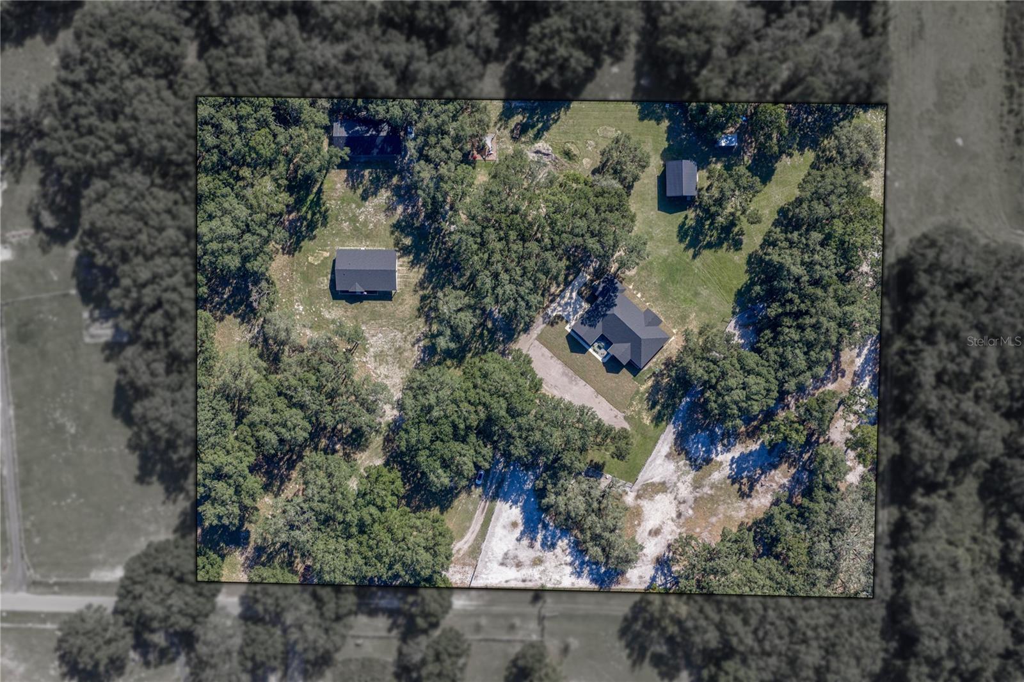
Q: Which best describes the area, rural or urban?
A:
rural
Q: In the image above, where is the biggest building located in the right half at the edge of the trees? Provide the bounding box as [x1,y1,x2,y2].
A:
[571,281,668,368]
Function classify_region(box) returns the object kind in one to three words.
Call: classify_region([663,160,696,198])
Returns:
shed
